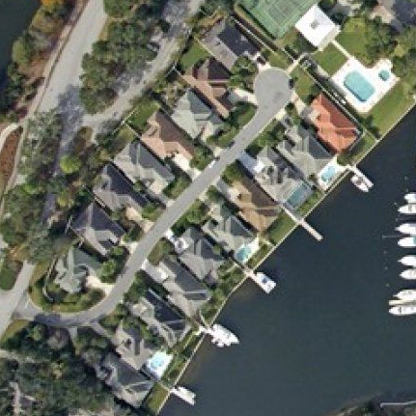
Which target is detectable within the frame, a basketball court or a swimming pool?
swimming pool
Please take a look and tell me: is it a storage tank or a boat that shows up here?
boat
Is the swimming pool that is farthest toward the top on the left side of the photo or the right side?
right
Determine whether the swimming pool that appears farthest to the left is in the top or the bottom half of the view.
bottom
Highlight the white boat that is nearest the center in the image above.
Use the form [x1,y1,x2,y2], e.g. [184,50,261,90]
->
[257,272,275,291]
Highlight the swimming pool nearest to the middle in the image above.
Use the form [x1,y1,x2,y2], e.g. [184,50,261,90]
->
[235,237,259,263]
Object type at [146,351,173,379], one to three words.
swimming pool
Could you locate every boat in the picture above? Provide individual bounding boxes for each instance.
[396,223,416,235]
[405,192,416,202]
[213,324,239,343]
[353,176,370,192]
[178,386,195,400]
[398,236,416,247]
[389,306,416,317]
[401,268,416,279]
[400,203,416,214]
[394,289,416,299]
[400,256,416,267]
[257,272,275,291]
